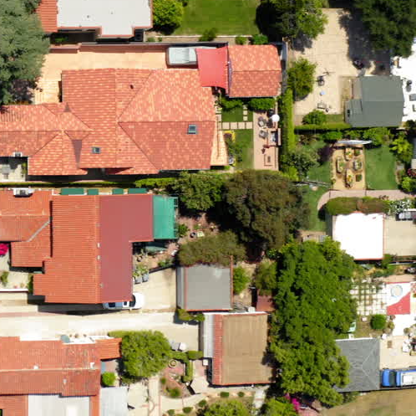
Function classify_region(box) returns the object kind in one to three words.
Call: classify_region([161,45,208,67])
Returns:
vehicle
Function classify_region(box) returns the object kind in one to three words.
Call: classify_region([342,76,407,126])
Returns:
shed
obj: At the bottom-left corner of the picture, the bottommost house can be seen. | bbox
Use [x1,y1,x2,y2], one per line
[0,333,128,416]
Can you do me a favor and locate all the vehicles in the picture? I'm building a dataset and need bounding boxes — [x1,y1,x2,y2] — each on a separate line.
[97,292,144,313]
[380,367,416,389]
[161,45,208,67]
